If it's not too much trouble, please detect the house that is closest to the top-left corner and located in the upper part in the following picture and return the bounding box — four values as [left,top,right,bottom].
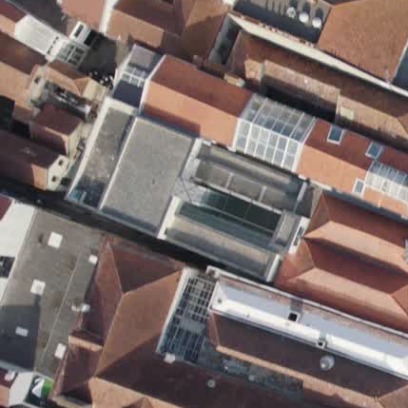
[0,0,36,34]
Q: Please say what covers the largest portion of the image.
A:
buildings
